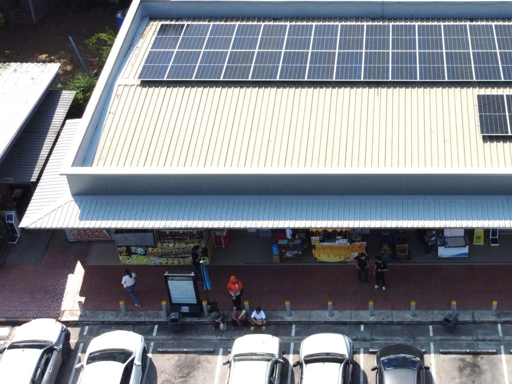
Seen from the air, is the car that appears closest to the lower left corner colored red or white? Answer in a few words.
white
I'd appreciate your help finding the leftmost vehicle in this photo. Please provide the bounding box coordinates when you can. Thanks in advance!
[0,318,66,384]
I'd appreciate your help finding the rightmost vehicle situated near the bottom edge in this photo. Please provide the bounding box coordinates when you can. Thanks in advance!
[369,343,432,384]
